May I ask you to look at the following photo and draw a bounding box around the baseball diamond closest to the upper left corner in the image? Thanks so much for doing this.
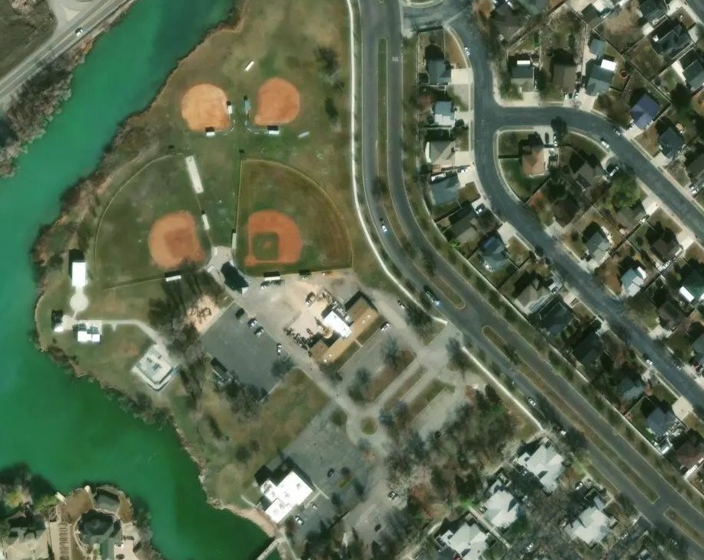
[181,82,234,135]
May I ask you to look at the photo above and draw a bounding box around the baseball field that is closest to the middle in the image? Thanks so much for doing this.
[235,160,353,278]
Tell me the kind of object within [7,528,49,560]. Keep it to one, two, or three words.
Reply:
house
